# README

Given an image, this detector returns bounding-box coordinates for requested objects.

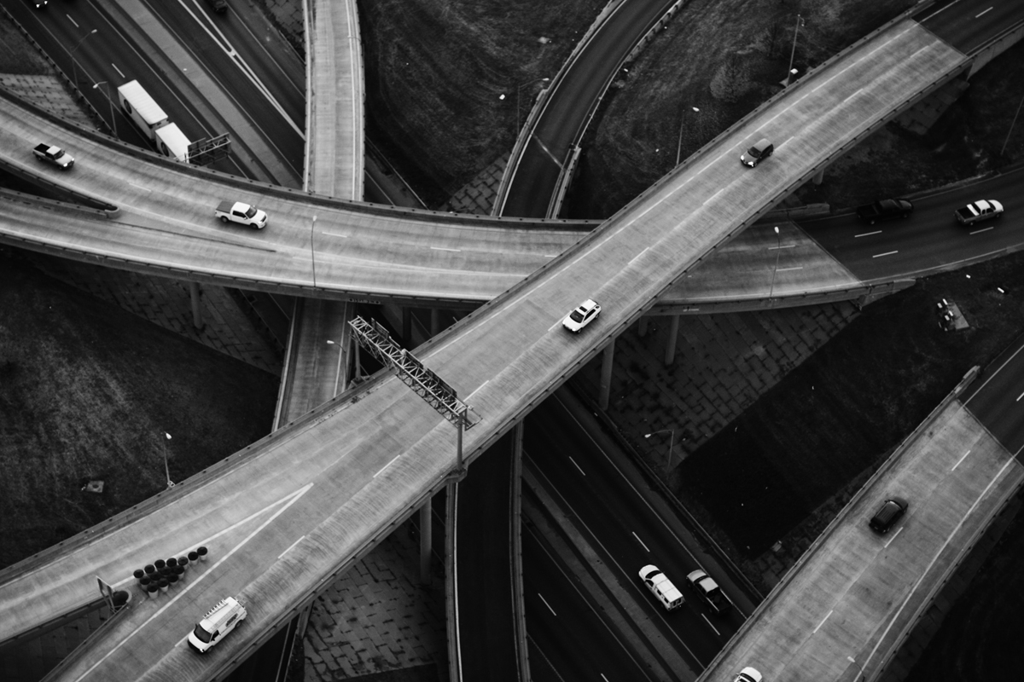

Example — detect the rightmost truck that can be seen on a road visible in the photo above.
[954,201,1002,226]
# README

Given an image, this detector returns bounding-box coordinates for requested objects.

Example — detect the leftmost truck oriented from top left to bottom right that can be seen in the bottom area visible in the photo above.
[638,565,685,614]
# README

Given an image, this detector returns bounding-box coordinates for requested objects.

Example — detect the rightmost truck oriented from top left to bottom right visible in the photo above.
[687,570,732,617]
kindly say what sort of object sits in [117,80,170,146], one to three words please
trailer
